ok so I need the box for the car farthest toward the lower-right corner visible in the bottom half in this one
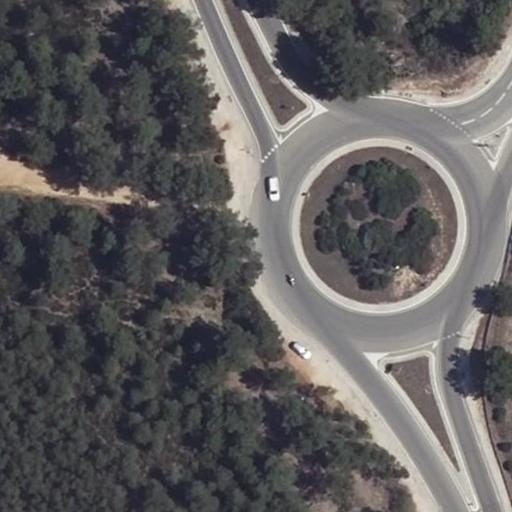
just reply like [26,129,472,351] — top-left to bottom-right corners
[292,341,313,360]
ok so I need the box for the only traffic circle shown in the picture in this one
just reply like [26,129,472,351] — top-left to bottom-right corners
[252,98,506,352]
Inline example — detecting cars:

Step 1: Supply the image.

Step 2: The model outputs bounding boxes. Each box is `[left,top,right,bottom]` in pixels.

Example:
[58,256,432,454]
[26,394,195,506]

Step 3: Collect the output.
[269,177,280,202]
[292,341,313,360]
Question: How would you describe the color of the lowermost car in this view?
white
